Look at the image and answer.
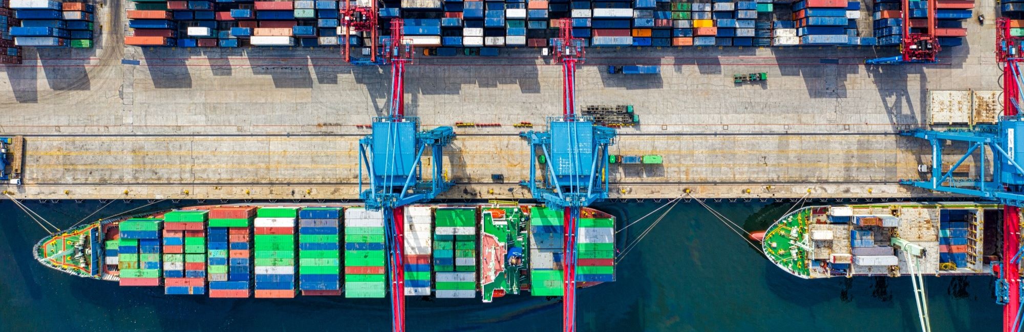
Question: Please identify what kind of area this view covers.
port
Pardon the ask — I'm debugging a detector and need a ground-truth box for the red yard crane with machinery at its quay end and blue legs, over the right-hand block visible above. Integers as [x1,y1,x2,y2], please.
[864,0,937,65]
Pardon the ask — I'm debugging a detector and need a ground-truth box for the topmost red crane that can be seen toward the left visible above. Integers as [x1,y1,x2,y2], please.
[342,0,391,65]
